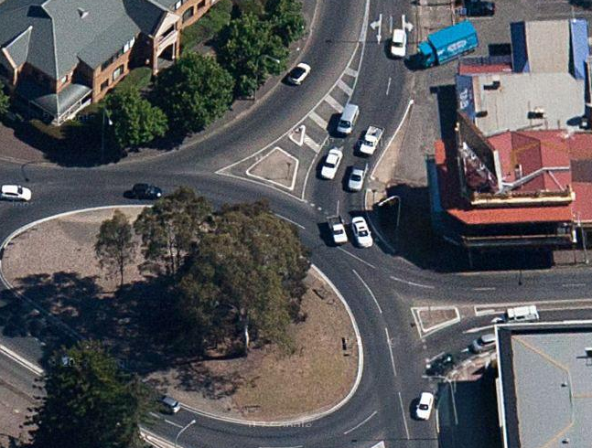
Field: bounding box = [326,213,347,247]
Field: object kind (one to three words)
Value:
vehicle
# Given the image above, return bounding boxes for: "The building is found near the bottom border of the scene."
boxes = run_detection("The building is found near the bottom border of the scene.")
[494,321,592,448]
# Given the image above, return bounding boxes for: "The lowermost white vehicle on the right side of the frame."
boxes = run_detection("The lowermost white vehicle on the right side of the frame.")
[415,391,435,423]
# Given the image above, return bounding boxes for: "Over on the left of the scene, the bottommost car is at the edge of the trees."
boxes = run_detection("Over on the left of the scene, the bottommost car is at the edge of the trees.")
[148,390,182,416]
